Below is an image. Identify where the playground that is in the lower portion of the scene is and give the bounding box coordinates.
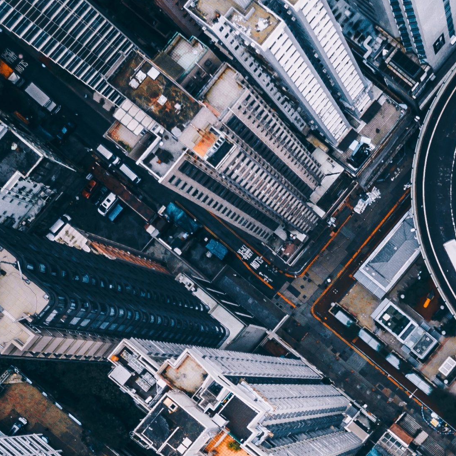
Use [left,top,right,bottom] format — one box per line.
[409,285,439,331]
